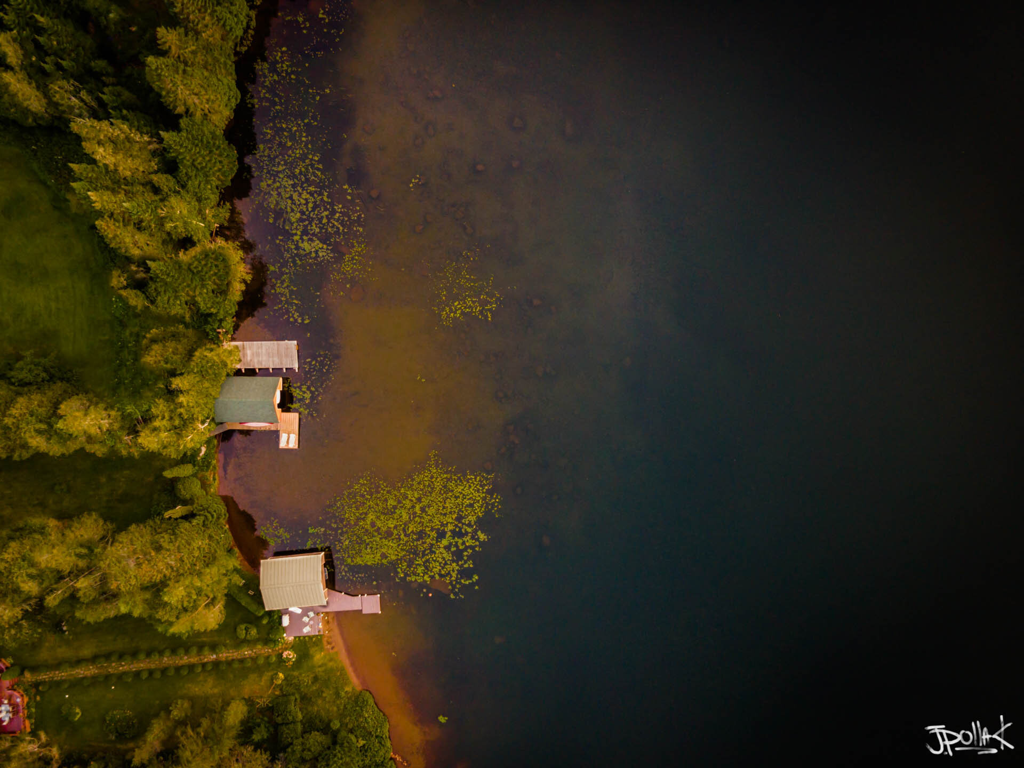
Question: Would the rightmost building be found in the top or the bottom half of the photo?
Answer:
bottom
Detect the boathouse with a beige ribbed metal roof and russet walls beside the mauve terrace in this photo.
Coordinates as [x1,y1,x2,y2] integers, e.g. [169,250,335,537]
[259,551,329,611]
